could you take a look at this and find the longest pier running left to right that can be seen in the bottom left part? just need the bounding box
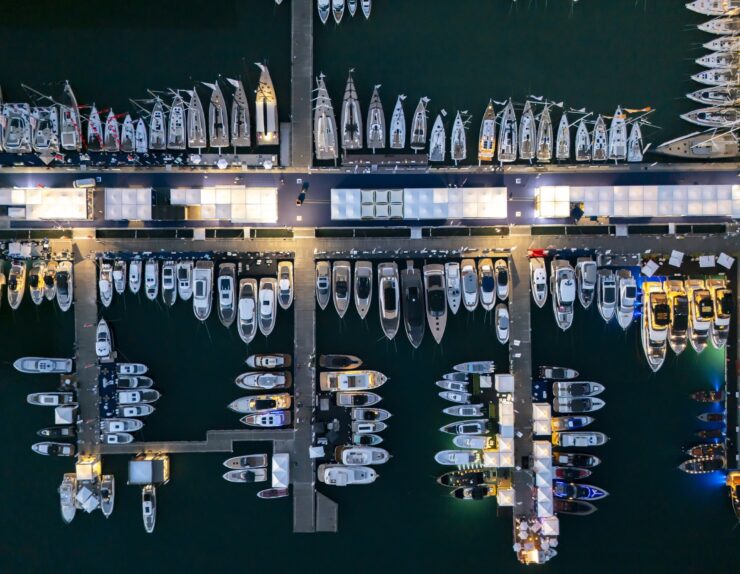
[100,429,293,455]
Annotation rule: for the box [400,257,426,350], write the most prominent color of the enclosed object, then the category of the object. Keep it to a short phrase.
black boat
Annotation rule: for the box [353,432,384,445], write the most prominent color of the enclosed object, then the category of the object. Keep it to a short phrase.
blue boat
